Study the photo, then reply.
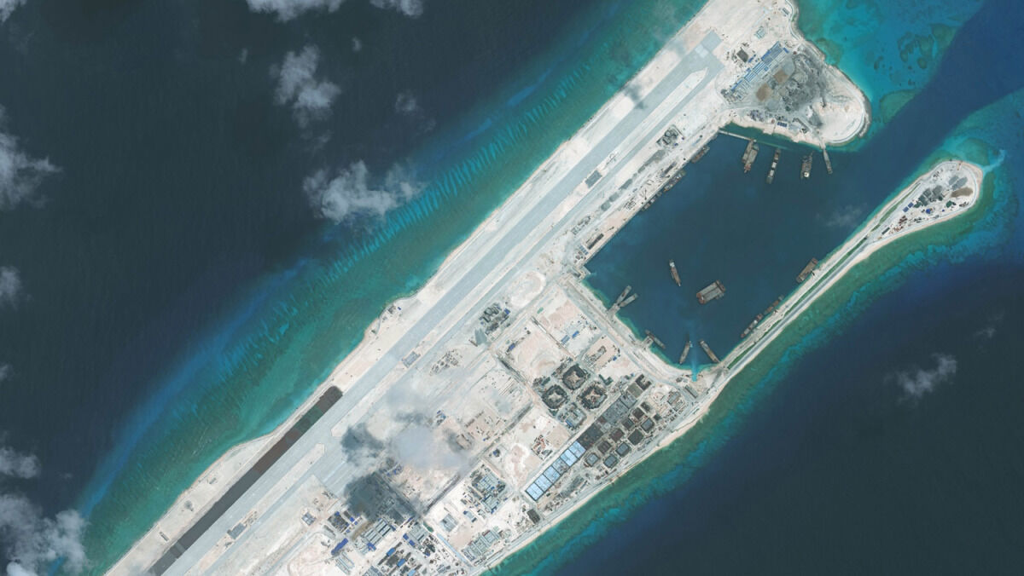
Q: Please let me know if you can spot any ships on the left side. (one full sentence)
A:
No, there is no ship on the left side.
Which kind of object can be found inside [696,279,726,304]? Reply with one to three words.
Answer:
ship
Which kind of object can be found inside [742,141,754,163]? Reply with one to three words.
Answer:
ship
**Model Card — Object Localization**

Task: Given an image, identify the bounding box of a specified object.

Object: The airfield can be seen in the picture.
[142,29,725,576]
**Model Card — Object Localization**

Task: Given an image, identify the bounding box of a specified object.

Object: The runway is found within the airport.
[160,29,723,576]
